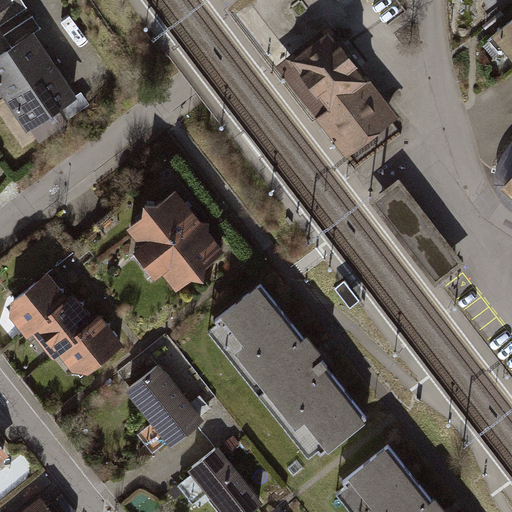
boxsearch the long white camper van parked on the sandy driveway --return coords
[61,17,88,47]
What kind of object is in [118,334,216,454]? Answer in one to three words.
house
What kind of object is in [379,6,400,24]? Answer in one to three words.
car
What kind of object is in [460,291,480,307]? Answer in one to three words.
car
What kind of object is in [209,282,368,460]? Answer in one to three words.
building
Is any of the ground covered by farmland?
No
